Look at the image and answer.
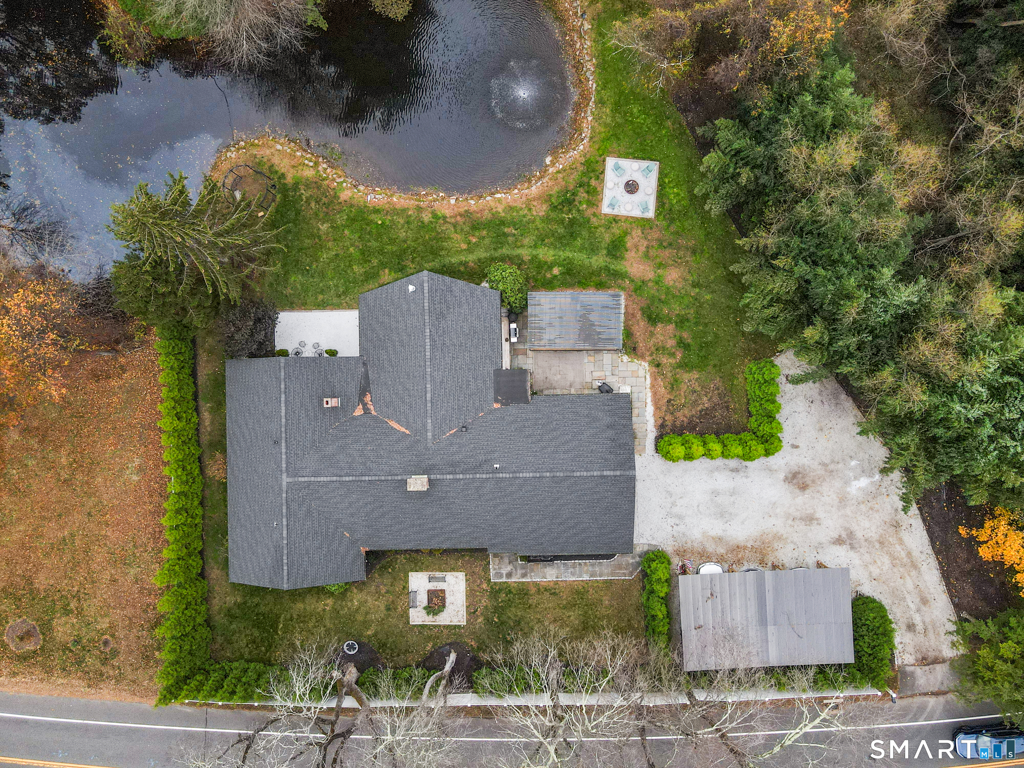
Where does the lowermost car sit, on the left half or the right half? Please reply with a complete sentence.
You can find the lowermost car on the right side of the picture.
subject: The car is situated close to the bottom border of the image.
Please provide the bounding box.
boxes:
[954,724,1024,762]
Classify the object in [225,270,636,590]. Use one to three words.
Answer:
house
